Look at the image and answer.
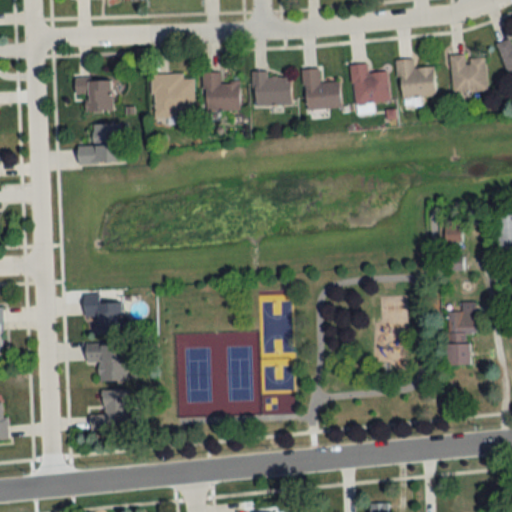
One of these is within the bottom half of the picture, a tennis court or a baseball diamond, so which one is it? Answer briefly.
tennis court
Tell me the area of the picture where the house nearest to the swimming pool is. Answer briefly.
left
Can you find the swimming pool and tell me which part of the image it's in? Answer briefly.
left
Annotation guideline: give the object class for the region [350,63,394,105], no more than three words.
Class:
house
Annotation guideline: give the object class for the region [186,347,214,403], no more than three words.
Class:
tennis court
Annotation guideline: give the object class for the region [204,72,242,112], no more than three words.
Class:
house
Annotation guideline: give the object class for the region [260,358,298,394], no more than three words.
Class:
basketball court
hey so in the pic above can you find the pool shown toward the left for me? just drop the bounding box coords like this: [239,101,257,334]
[129,300,150,320]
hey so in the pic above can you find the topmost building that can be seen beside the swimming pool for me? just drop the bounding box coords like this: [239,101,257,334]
[82,292,122,326]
